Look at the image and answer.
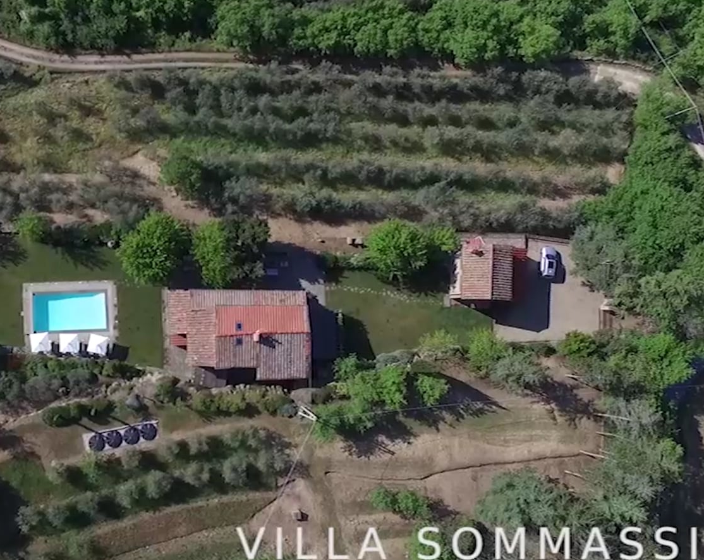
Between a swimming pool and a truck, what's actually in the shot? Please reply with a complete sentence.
There is a swimming pool in the scene.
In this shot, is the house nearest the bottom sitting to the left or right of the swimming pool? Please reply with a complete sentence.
The house nearest the bottom is to the right of the swimming pool.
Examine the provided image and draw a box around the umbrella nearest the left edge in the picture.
[31,332,51,354]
